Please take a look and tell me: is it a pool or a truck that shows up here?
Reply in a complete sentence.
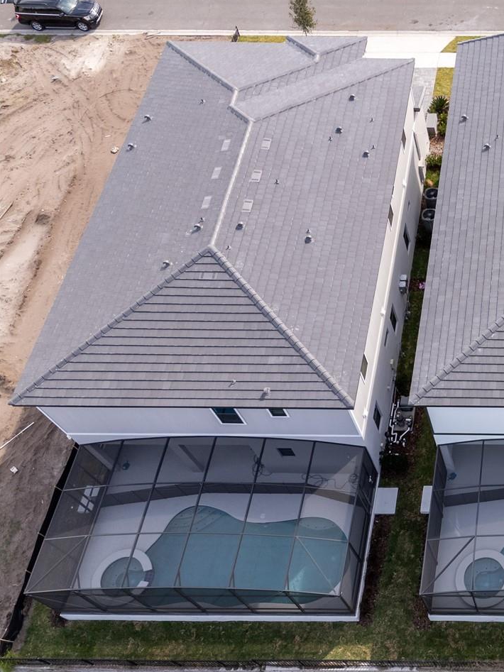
Looking from above, you can make out a pool.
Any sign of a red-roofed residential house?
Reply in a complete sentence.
No, I can see no red-roofed residential house in this picture.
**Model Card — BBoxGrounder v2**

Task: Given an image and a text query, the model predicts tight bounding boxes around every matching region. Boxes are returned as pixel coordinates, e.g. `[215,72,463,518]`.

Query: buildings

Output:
[9,34,428,471]
[408,32,504,468]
